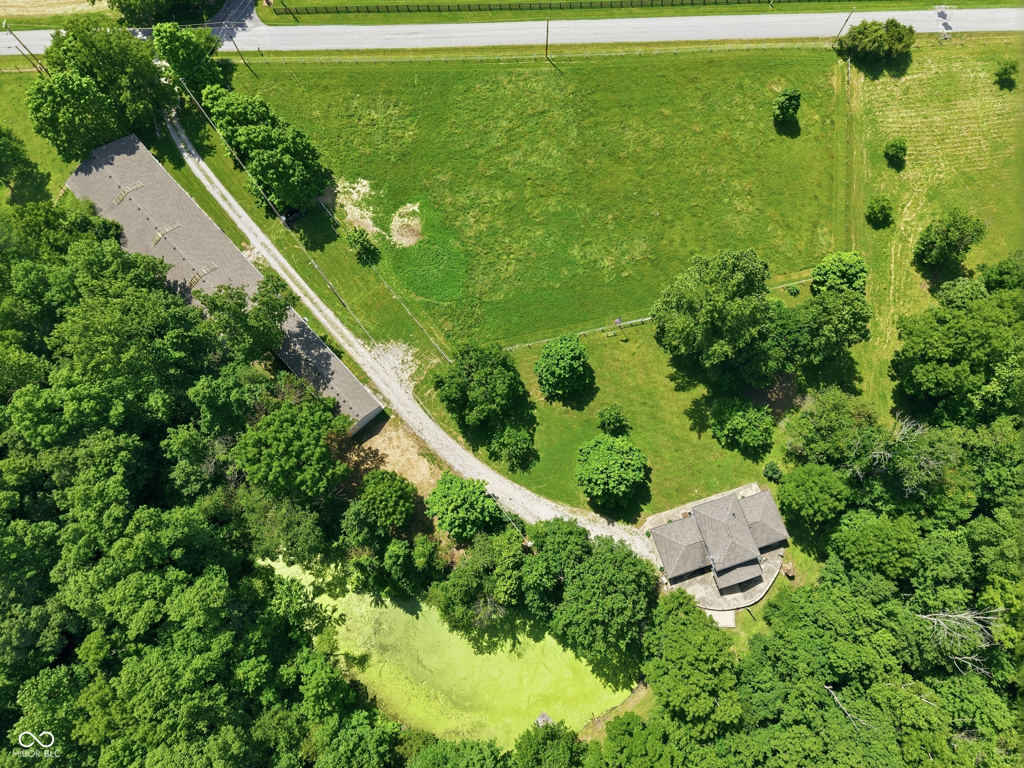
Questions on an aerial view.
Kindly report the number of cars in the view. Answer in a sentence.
I count just 1 car.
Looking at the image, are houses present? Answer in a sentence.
Yes, the frame does contain a house.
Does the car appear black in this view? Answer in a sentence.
Yes, black is the color of the car.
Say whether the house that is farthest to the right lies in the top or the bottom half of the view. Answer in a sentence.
The house that is farthest to the right is in the bottom half of the image.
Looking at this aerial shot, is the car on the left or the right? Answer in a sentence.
The car appears in the left half of the scene.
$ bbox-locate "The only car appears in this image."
[278,207,305,227]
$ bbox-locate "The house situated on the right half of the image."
[649,489,789,590]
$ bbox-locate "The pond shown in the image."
[256,555,639,760]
